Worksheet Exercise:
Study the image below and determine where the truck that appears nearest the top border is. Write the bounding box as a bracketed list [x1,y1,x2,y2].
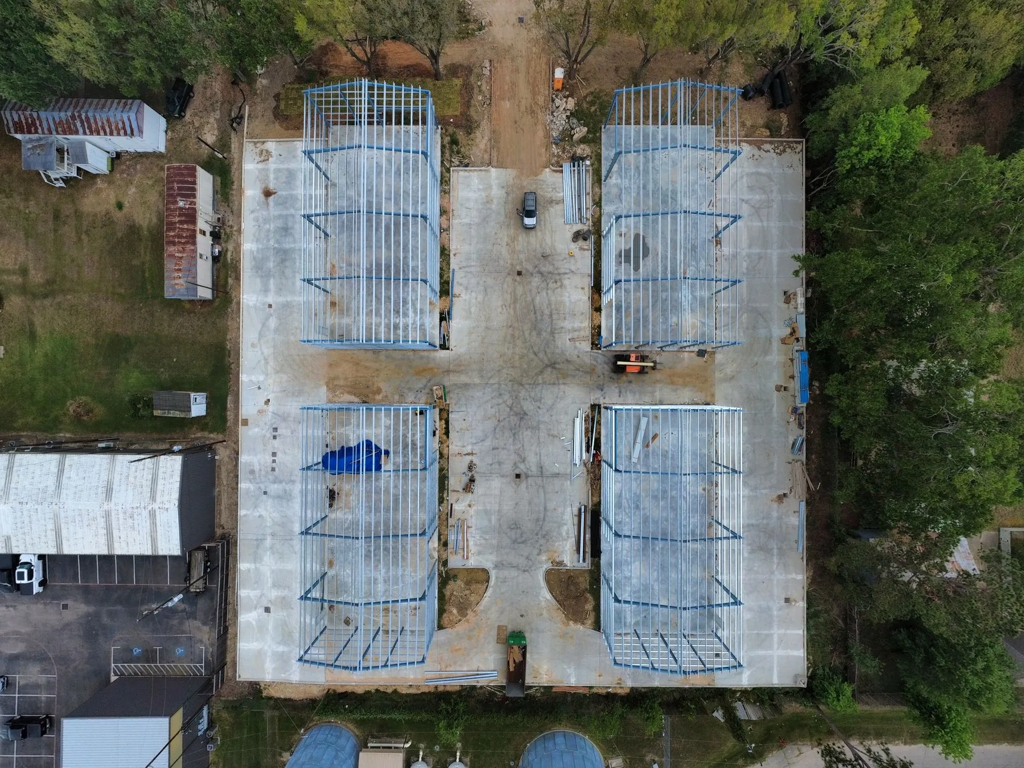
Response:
[169,75,194,118]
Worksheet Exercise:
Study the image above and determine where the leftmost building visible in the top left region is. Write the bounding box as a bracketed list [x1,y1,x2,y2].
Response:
[0,97,163,195]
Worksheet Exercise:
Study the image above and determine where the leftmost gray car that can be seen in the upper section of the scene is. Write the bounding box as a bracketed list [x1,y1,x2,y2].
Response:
[513,192,537,229]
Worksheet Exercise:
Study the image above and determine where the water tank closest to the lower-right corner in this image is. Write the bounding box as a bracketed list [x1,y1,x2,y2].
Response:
[519,728,607,768]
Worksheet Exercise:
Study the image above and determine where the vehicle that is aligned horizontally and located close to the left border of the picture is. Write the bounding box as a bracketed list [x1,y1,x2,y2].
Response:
[8,714,56,735]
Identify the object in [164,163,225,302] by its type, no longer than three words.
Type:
house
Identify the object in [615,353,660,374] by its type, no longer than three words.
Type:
work vehicle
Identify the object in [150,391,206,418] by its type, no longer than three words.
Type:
shed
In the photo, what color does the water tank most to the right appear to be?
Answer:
blue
